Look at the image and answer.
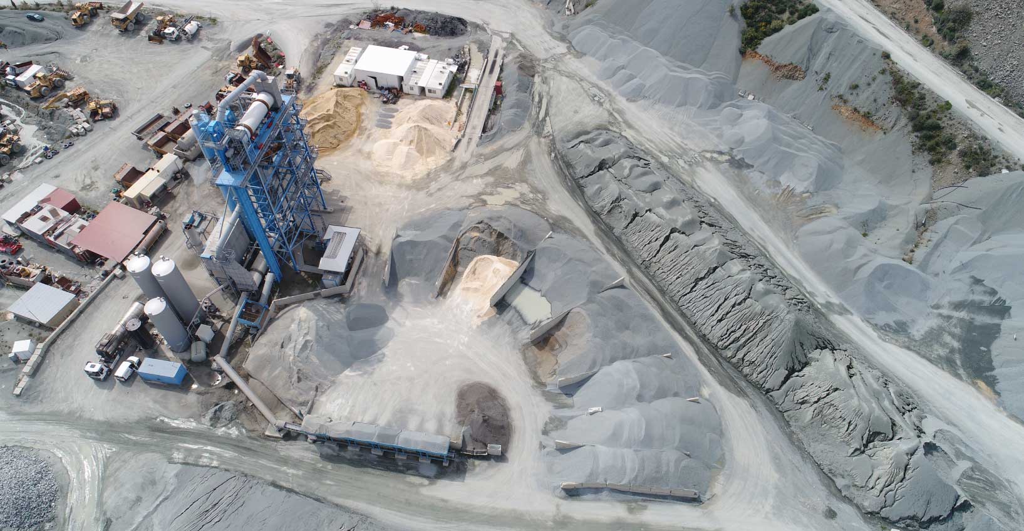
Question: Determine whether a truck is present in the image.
Yes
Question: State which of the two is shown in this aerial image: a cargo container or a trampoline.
cargo container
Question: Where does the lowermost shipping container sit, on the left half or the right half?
left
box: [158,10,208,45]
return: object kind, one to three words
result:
truck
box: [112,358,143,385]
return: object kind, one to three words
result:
vehicle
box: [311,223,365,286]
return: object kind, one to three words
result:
building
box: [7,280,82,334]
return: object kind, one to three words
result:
shed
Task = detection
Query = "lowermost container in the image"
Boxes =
[138,357,190,387]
